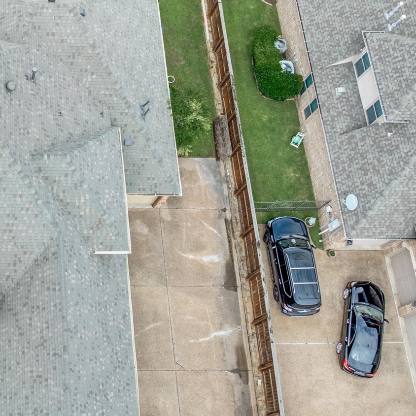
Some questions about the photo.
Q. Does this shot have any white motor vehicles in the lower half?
No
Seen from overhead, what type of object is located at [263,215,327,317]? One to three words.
car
